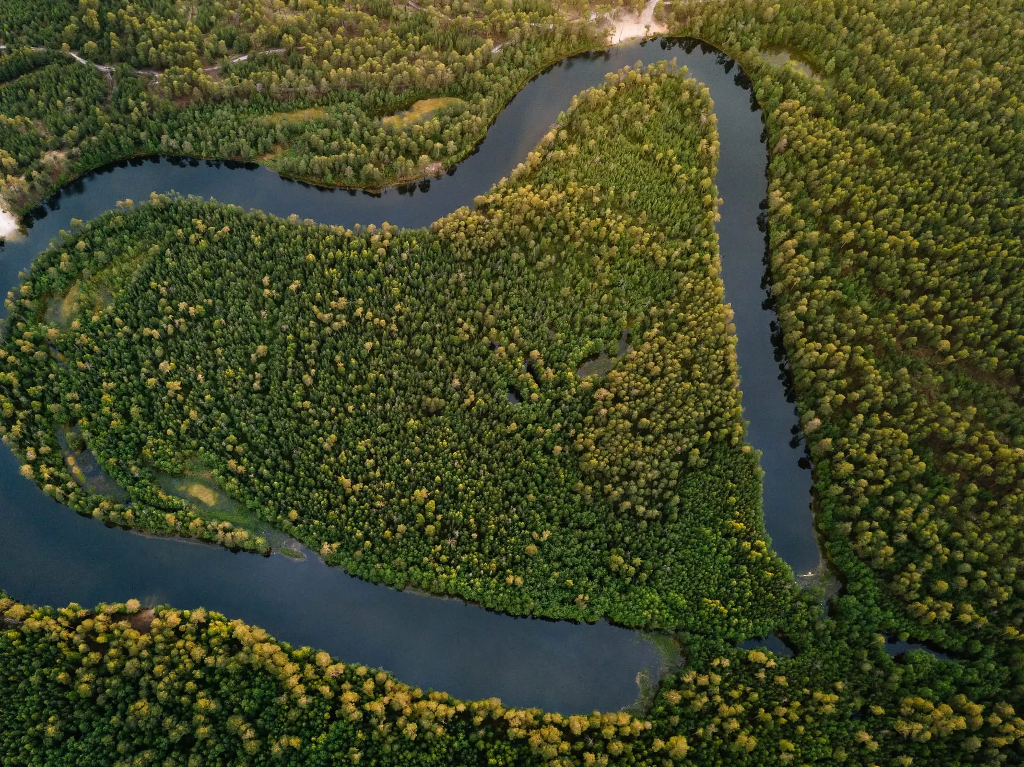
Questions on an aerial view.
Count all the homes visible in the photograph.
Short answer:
0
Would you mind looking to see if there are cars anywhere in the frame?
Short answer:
No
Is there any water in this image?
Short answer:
Yes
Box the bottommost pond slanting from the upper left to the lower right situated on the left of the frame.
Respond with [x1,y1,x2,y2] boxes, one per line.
[56,420,131,505]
